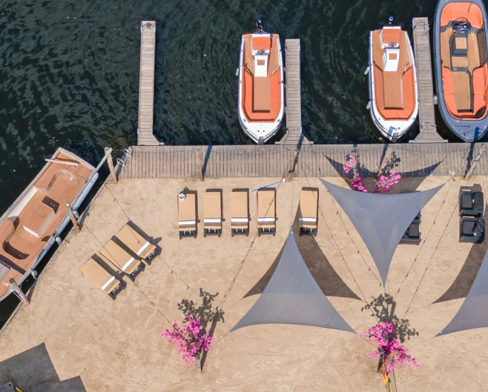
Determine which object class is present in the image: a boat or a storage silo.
boat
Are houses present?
No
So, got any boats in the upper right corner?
Yes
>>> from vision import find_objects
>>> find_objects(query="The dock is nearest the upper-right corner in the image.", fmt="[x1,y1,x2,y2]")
[408,16,448,142]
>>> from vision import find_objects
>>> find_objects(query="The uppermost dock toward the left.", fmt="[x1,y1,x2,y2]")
[135,20,164,142]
